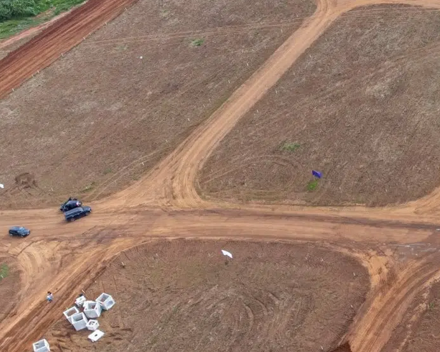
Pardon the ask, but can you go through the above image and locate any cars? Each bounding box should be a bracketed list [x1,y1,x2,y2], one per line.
[60,204,91,221]
[58,194,83,211]
[6,225,30,238]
